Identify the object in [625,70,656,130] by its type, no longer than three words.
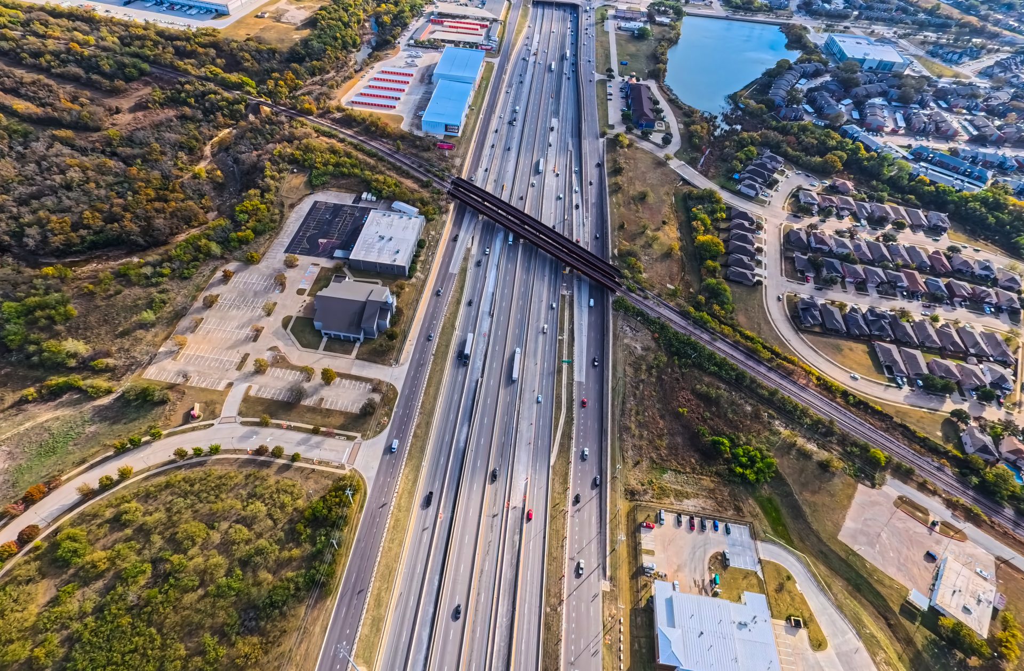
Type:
building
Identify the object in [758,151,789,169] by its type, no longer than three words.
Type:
house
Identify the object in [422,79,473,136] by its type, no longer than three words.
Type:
building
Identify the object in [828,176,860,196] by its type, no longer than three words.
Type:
house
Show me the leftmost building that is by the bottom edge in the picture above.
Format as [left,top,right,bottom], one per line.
[651,579,782,671]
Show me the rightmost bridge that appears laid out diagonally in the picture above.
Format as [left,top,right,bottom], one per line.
[448,176,622,296]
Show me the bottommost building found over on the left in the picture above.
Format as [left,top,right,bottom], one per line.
[309,275,394,339]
